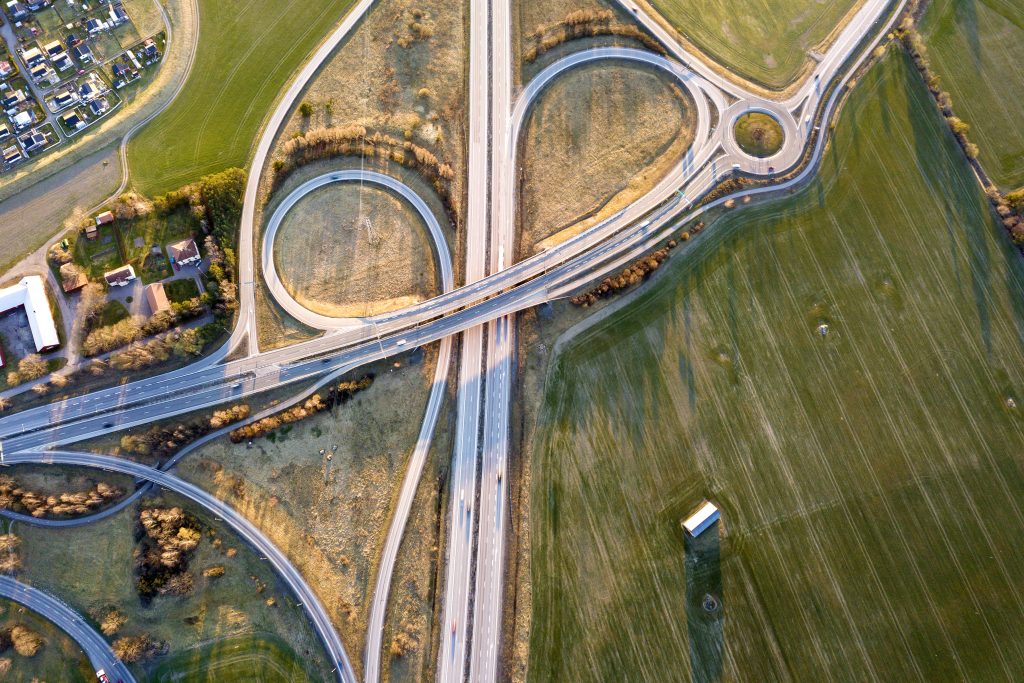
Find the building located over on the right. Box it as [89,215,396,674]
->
[680,502,718,536]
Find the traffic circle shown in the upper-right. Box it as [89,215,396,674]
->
[717,100,801,171]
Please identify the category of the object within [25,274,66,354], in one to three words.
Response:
barn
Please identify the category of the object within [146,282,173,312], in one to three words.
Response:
barn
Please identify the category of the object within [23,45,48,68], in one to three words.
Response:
house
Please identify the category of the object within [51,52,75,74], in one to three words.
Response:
house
